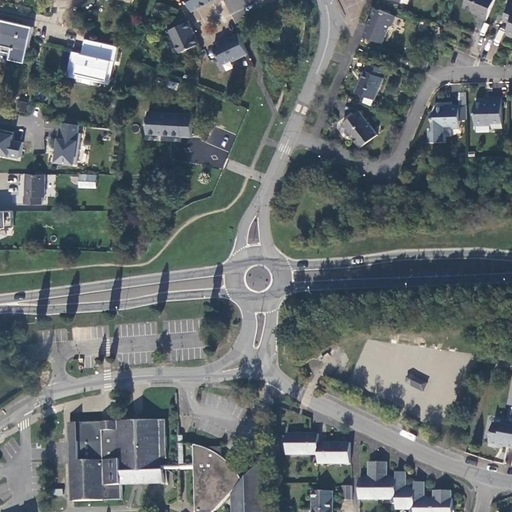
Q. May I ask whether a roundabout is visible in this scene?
Yes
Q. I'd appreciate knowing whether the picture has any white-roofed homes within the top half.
Yes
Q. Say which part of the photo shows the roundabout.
center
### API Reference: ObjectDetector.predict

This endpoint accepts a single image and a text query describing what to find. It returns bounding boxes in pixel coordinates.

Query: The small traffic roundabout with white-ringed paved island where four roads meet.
[225,245,293,317]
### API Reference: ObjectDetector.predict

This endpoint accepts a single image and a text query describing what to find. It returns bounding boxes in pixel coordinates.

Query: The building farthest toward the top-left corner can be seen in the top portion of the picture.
[0,20,34,68]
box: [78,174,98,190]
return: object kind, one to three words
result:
shed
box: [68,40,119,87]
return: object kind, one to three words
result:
house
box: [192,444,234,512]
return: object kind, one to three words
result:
building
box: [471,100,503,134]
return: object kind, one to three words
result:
house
